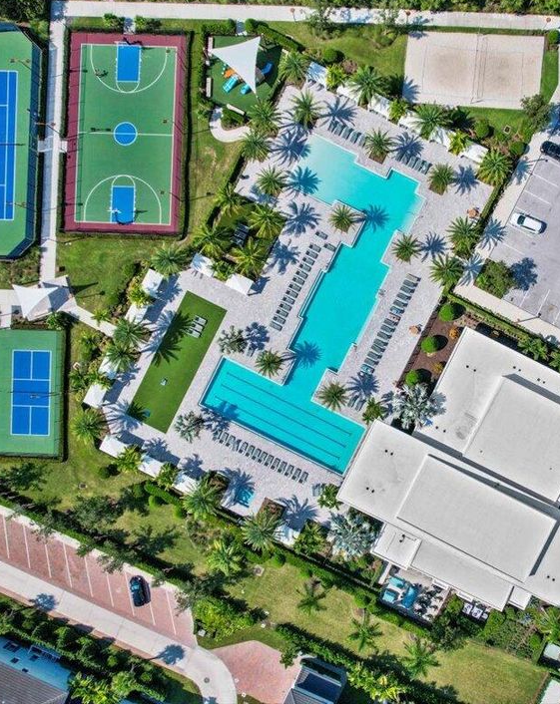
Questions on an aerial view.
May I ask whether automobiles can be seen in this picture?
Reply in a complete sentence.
Yes, the frame does contain an automobile.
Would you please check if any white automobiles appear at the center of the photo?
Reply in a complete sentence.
No, I see no white automobile at the center of the photo.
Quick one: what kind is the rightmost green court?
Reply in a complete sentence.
Looking closely, the rightmost green court is a basketball court.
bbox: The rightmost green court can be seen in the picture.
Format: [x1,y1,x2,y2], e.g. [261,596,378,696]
[65,33,186,234]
